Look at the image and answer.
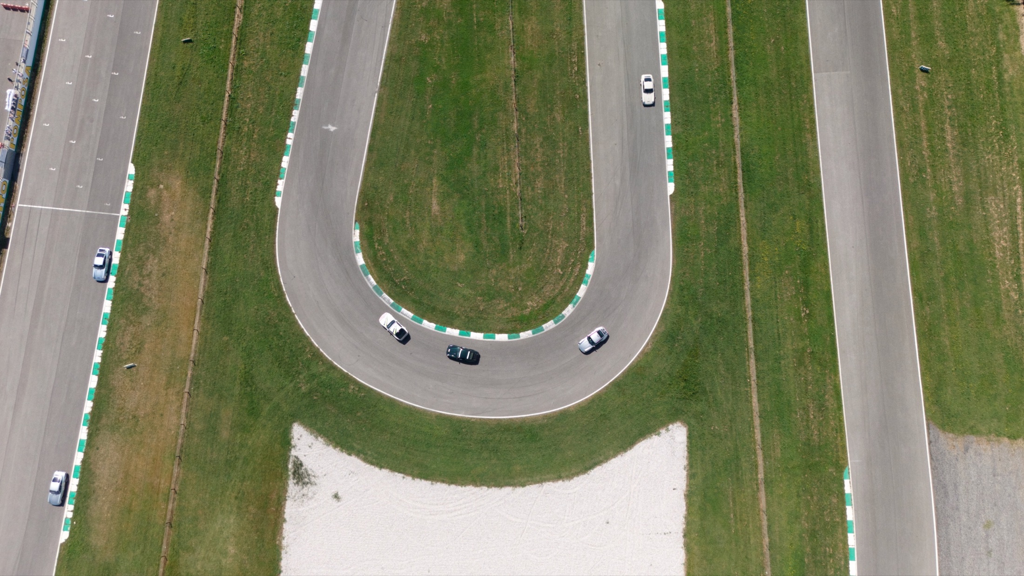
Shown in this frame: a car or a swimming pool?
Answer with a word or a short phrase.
car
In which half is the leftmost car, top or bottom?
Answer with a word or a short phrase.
bottom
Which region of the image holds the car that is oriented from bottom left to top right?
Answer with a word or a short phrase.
center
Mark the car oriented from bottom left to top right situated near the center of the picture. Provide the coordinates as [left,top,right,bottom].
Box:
[578,327,609,352]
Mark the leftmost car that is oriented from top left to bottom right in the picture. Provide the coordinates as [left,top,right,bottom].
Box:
[380,312,408,342]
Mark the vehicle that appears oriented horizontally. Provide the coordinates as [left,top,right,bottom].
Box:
[447,346,480,363]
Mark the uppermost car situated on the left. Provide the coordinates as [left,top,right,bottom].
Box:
[92,249,112,282]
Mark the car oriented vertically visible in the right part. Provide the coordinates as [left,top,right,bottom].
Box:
[640,75,655,105]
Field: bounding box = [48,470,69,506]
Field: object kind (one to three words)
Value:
car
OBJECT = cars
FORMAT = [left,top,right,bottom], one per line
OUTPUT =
[48,470,69,506]
[447,346,480,363]
[578,327,609,352]
[380,312,408,342]
[640,75,655,105]
[92,249,112,282]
